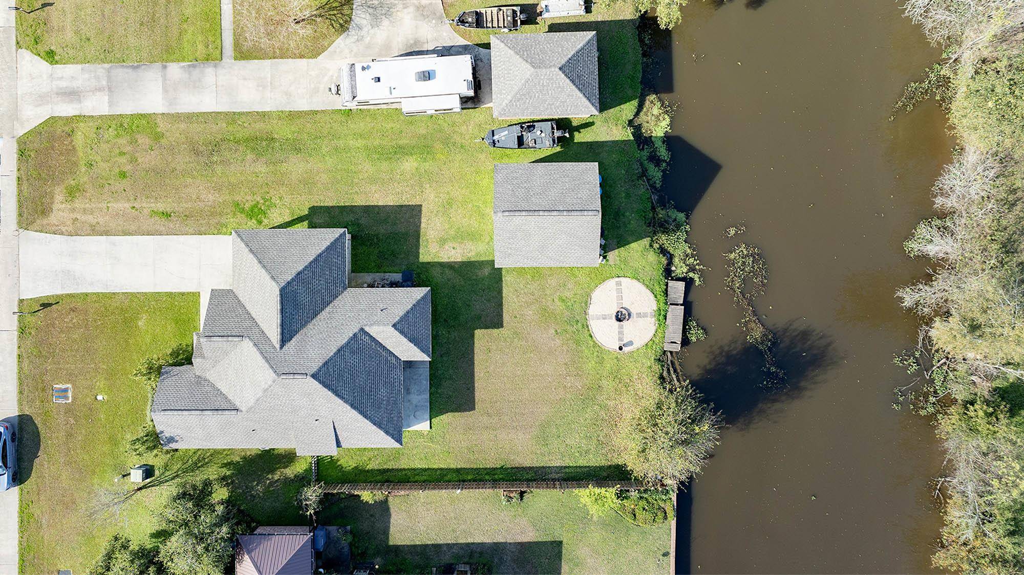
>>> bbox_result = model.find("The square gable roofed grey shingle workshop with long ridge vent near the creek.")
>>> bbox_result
[493,161,603,268]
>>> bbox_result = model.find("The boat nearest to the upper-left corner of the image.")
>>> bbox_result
[456,6,528,30]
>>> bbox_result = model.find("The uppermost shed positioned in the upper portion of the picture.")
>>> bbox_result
[489,31,600,119]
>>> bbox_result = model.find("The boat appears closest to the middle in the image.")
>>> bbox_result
[485,120,569,149]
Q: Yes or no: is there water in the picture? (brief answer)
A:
Yes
